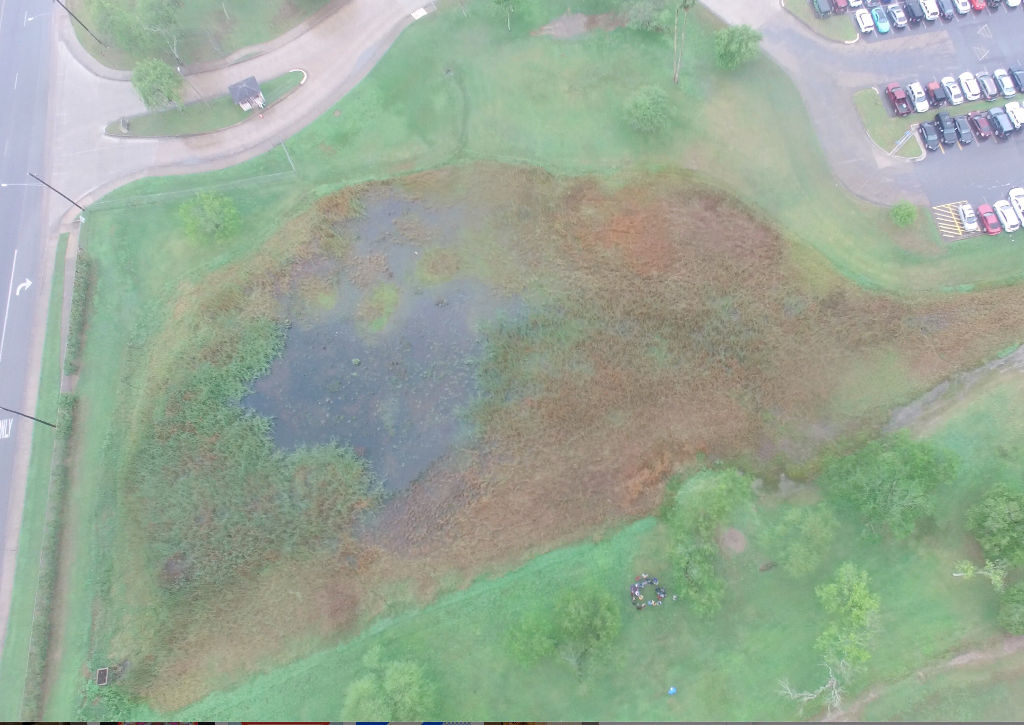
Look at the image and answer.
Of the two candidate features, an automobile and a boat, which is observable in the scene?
automobile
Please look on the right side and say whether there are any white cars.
Yes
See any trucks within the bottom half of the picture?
No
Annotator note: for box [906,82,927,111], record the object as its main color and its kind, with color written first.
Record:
white car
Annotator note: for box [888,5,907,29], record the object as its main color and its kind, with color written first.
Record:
white car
